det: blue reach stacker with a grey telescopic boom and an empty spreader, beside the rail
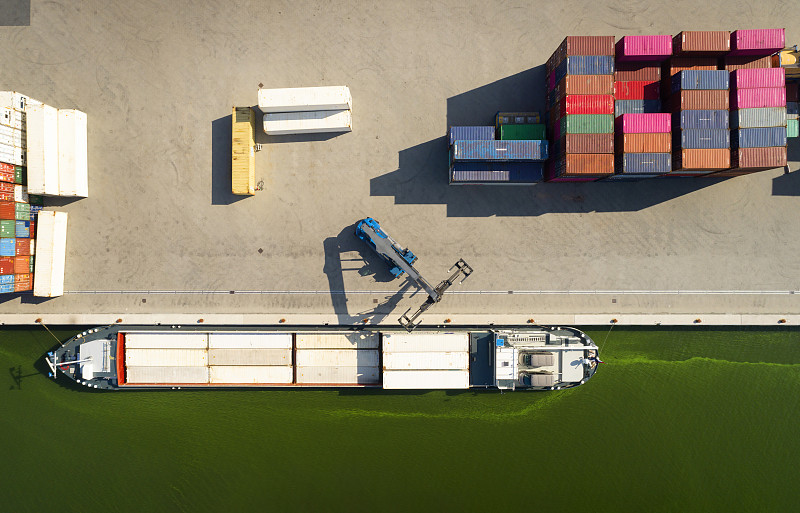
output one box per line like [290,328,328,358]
[354,216,475,334]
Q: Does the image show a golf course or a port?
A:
port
